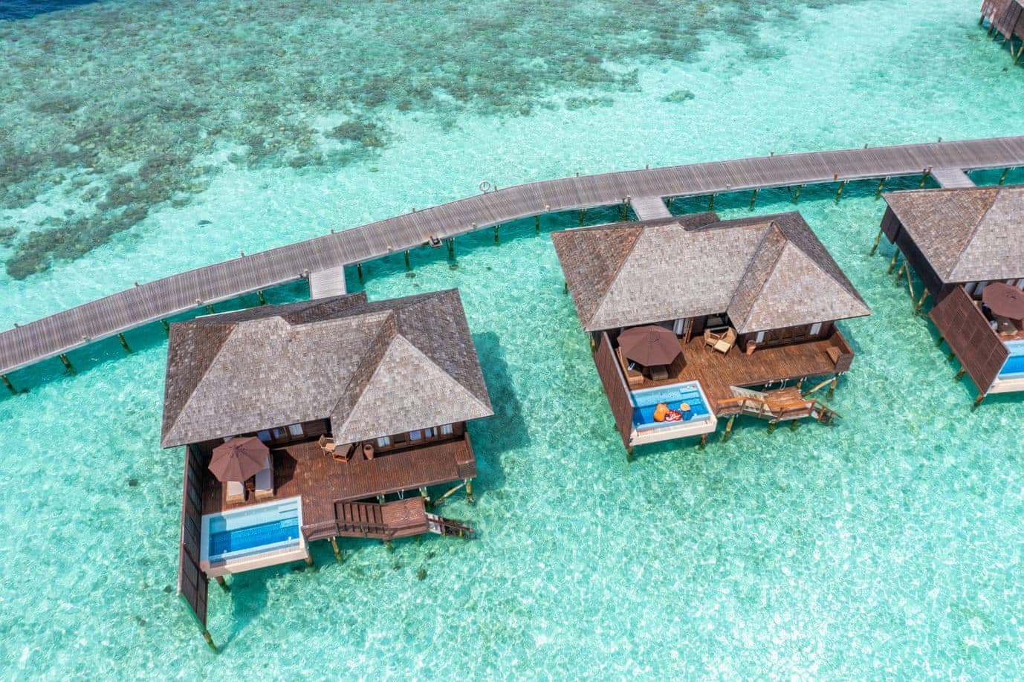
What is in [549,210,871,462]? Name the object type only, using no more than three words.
house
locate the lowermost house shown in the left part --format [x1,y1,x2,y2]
[160,286,494,640]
